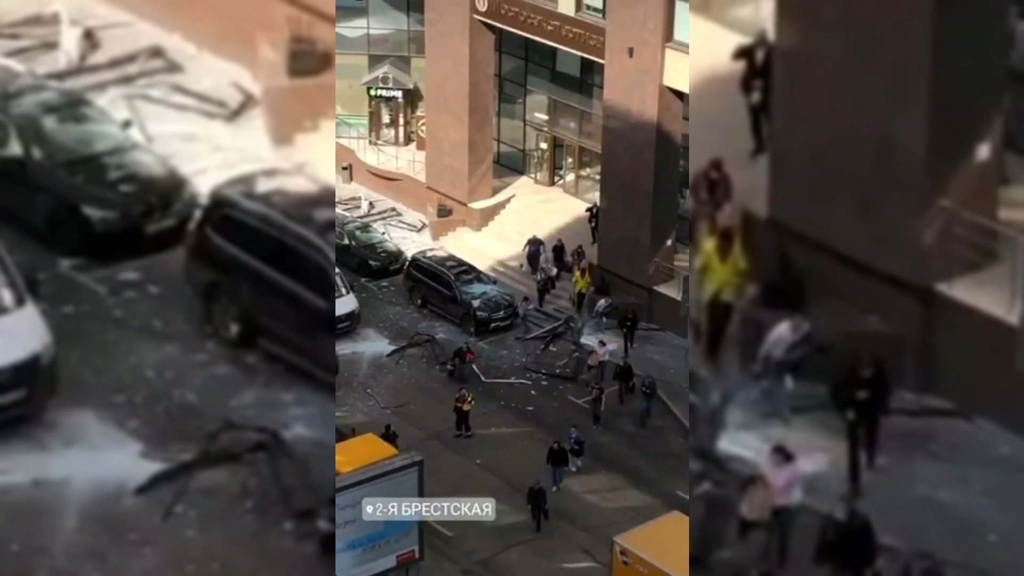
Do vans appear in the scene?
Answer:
Yes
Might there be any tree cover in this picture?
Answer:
No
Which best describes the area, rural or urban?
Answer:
urban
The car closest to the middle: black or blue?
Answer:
black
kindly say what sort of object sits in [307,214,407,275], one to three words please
car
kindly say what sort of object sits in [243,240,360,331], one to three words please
van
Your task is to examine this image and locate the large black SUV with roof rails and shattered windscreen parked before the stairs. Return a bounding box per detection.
[398,248,518,334]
